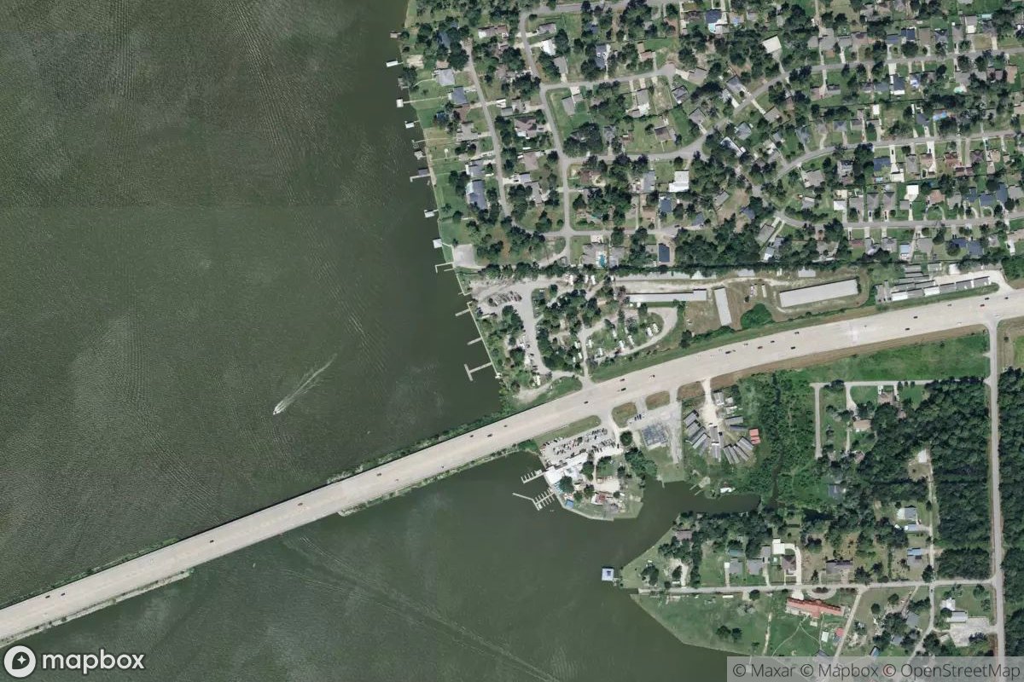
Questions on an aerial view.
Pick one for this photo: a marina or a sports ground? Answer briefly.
marina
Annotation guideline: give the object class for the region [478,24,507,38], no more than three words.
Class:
house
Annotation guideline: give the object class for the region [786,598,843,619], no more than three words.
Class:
building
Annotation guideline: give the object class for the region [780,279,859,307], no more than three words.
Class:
building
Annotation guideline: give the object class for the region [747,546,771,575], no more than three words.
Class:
house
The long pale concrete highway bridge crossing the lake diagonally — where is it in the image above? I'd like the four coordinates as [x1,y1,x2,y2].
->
[0,420,510,639]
